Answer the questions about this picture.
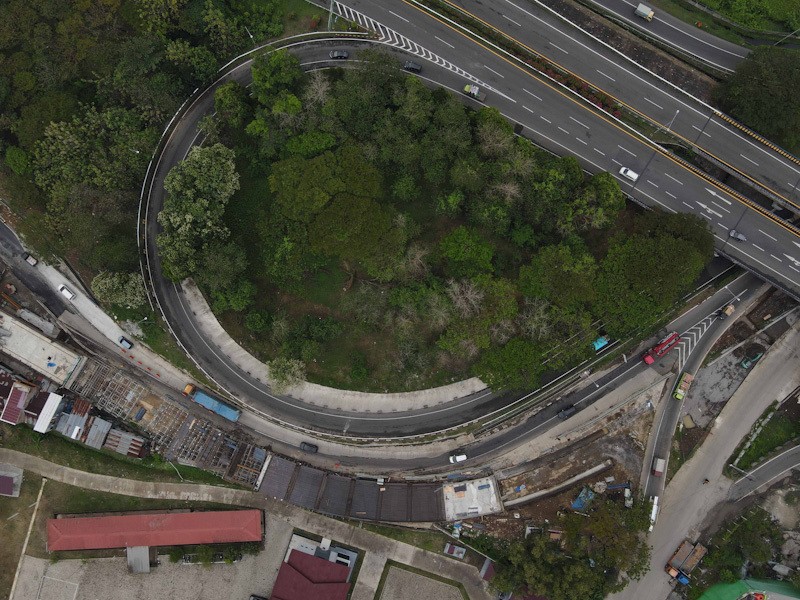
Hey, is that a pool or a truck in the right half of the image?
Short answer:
truck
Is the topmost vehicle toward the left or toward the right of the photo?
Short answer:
right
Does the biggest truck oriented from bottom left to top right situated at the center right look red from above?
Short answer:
Yes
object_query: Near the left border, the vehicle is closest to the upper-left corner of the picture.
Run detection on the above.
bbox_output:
[18,249,38,267]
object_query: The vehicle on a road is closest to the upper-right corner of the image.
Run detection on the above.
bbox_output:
[632,0,659,20]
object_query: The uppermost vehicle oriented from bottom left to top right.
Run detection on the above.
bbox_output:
[715,301,741,323]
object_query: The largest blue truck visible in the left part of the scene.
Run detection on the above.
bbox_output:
[181,384,240,423]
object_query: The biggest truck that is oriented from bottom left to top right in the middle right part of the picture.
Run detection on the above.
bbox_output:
[641,330,687,365]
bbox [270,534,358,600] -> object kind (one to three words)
house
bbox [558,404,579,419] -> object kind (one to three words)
car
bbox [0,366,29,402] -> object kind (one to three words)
shed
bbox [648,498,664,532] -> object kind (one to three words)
vehicle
